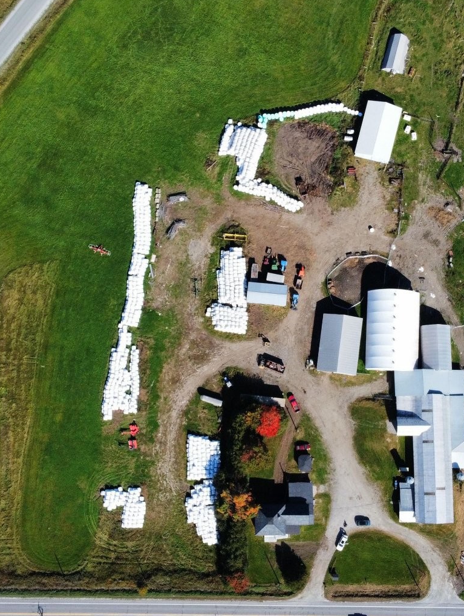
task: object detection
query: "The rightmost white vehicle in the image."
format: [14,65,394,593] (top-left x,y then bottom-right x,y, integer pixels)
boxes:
[336,532,349,550]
